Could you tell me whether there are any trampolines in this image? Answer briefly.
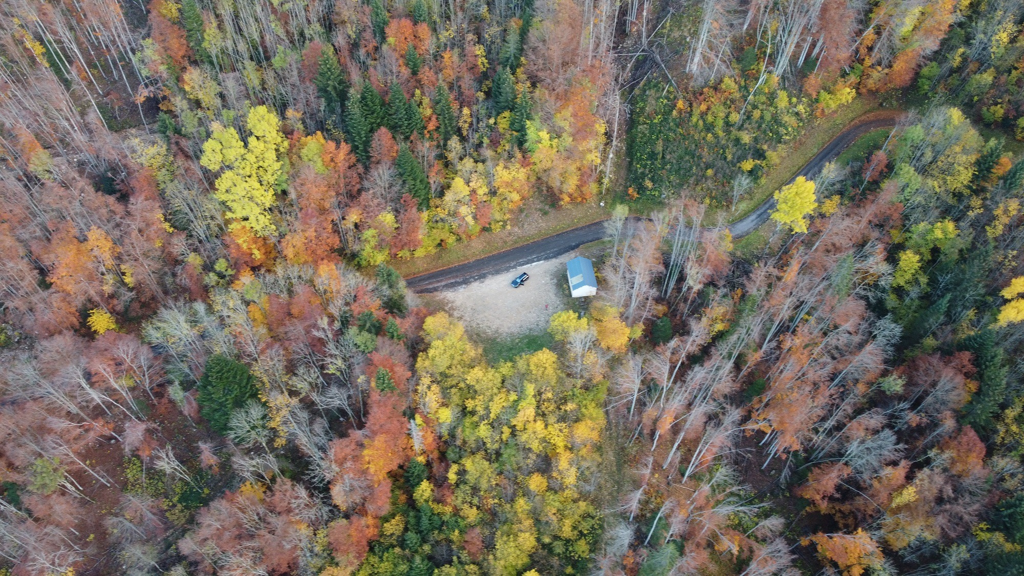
No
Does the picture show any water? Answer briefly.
No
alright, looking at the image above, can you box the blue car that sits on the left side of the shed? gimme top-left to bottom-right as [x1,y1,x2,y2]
[512,271,530,287]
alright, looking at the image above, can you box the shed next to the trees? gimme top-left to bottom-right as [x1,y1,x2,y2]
[566,256,597,297]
